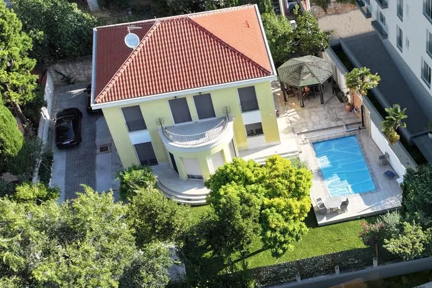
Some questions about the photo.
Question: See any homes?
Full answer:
Yes, you can see a home in this photo.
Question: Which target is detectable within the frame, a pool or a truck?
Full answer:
The image shows a pool.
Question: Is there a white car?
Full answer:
No, there is no white car in the image.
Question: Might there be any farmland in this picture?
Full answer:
No, no farmland is visible.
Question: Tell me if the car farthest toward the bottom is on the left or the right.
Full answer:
The car farthest toward the bottom is on the left side of the image.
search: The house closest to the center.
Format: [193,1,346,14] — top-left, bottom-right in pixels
[89,2,277,179]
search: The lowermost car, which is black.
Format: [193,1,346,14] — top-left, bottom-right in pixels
[53,100,81,146]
